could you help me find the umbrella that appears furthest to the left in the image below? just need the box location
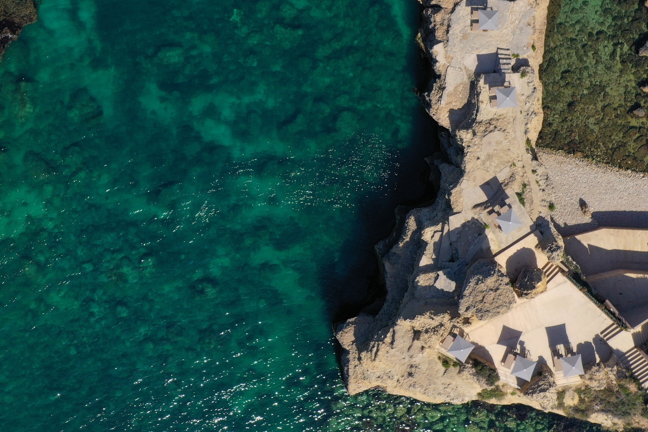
[445,335,474,363]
